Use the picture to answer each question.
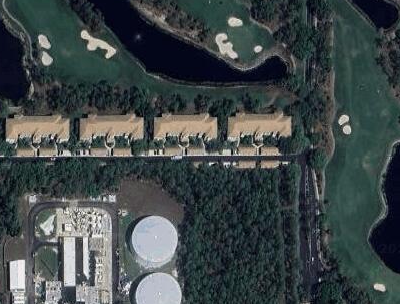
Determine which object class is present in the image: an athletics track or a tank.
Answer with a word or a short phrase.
tank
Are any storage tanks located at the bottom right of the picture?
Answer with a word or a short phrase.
No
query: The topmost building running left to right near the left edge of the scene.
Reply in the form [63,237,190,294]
[6,115,70,147]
